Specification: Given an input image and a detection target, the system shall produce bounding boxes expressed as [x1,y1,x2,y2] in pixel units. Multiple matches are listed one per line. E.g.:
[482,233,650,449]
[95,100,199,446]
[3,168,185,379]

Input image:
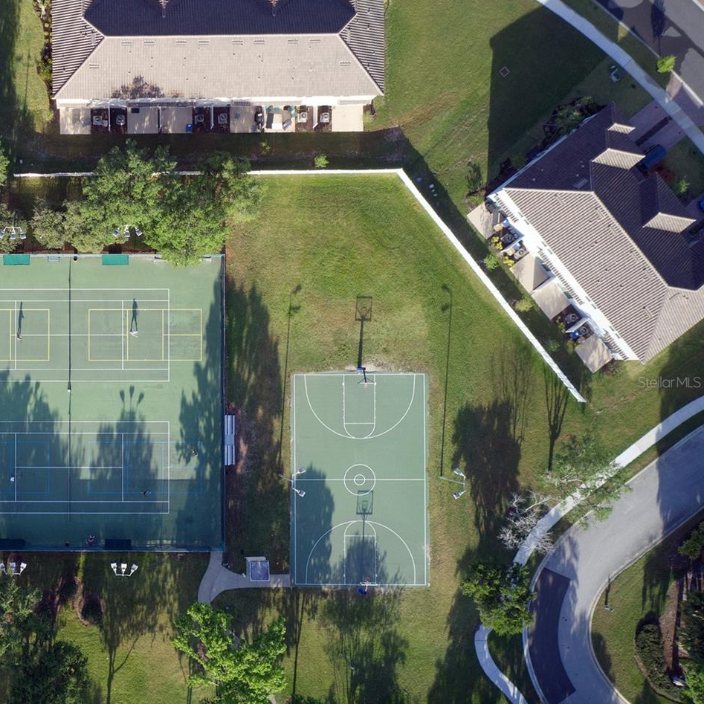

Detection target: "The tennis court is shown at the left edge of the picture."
[0,258,222,547]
